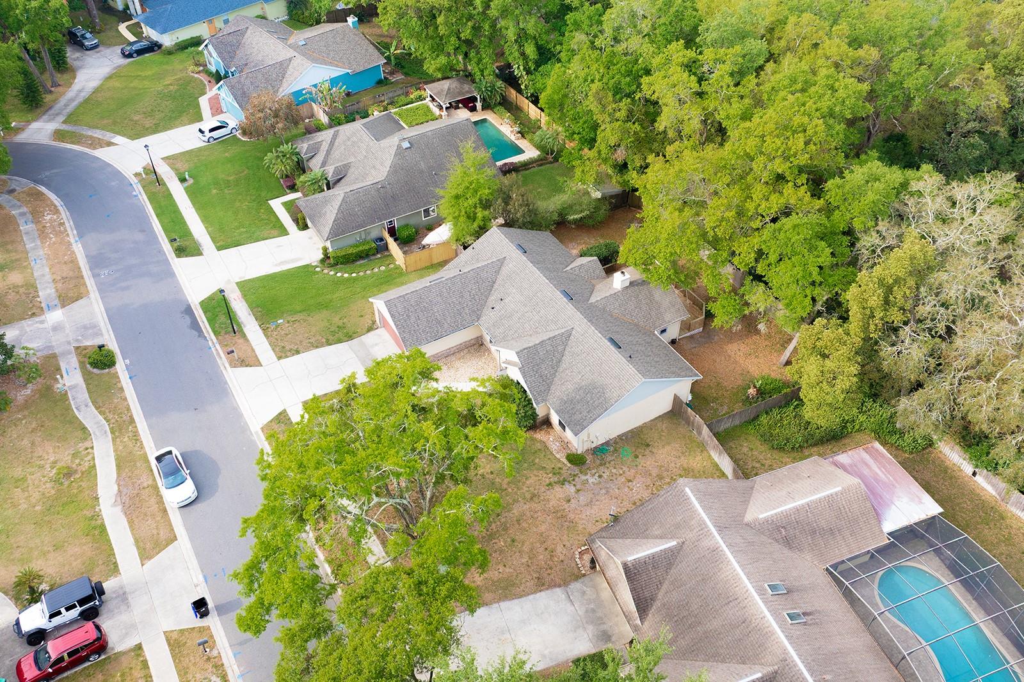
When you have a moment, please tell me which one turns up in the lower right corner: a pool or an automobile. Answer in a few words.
pool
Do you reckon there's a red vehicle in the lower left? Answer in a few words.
Yes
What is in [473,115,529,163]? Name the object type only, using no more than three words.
swimming pool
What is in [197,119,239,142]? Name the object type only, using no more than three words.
car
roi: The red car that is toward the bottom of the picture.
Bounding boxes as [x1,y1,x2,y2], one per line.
[19,622,109,682]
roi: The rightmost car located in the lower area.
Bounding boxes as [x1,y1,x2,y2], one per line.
[156,450,199,509]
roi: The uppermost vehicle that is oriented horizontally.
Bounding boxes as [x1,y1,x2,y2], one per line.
[121,38,160,57]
